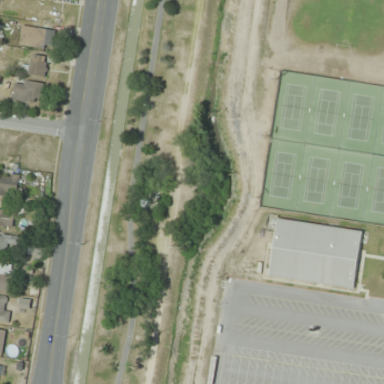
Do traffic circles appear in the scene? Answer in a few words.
No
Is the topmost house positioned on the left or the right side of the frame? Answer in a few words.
left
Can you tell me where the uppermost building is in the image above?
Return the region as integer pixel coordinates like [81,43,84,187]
[19,24,55,48]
